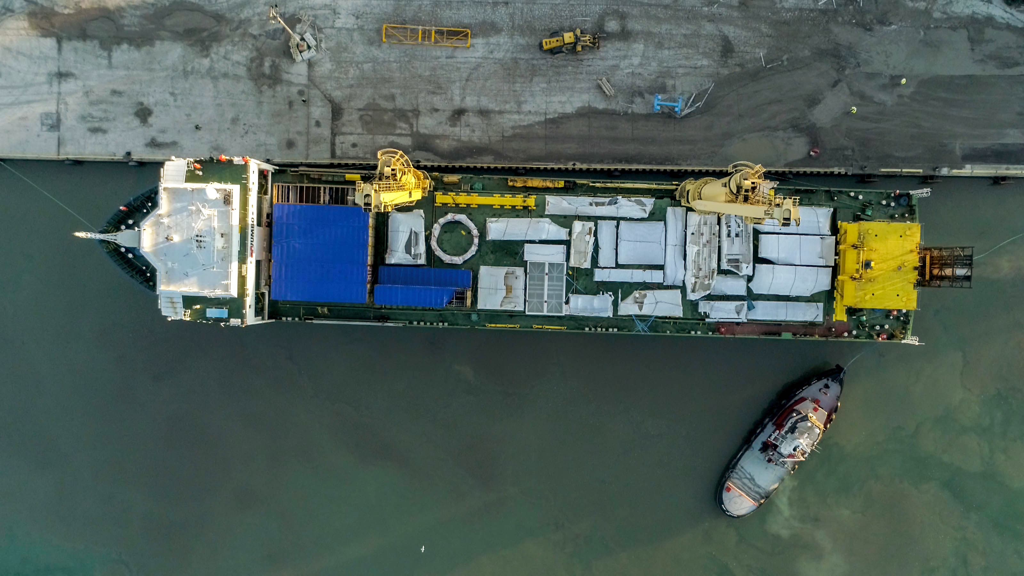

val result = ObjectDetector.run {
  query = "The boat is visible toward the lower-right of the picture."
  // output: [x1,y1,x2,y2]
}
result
[717,364,848,517]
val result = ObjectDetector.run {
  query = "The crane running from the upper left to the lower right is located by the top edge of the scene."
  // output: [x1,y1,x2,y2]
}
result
[270,4,317,64]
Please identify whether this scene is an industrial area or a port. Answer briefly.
port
